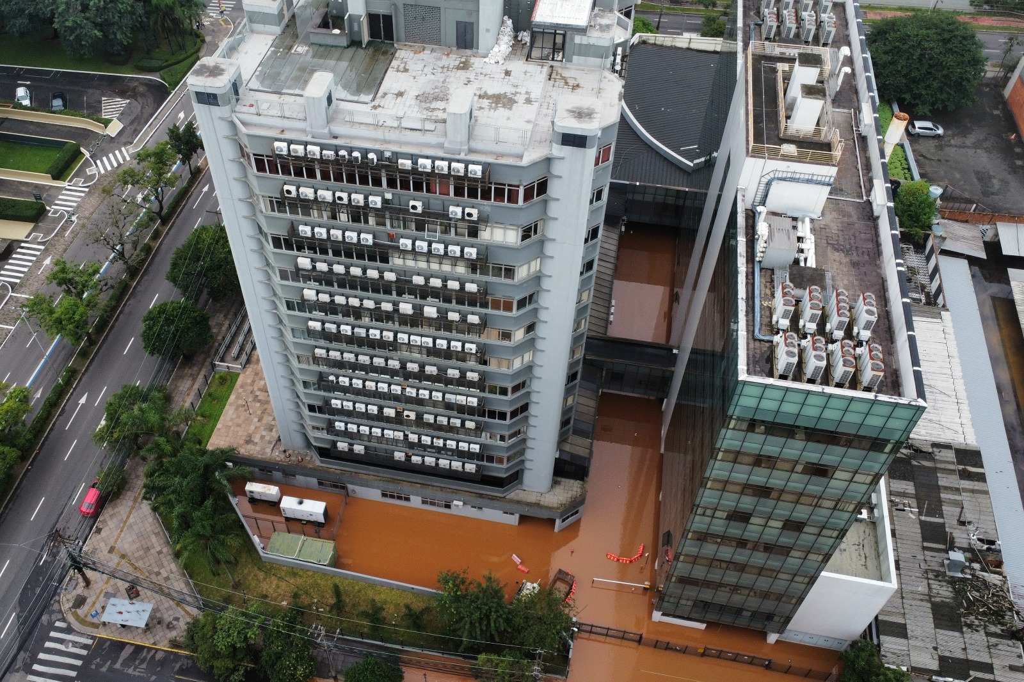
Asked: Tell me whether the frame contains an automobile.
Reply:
Yes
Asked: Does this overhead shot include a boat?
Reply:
No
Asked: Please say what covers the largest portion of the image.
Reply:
buildings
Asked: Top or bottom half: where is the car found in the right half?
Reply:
top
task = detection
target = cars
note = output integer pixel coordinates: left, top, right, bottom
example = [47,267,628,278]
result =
[907,117,945,137]
[47,90,72,110]
[11,86,36,104]
[75,479,109,521]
